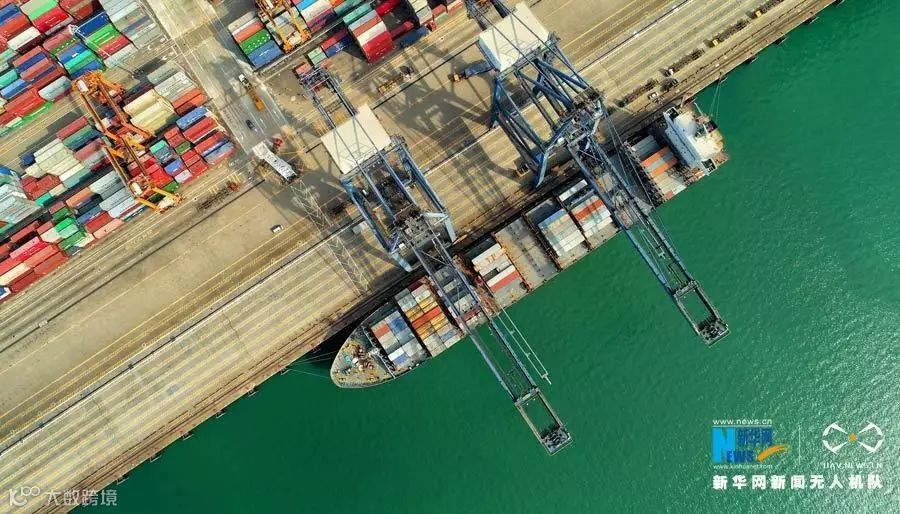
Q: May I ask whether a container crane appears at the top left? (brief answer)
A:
Yes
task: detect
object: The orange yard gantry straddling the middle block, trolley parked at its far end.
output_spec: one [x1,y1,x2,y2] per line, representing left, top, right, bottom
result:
[60,67,156,157]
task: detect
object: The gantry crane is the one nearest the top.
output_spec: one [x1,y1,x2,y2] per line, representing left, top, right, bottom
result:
[252,0,312,54]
